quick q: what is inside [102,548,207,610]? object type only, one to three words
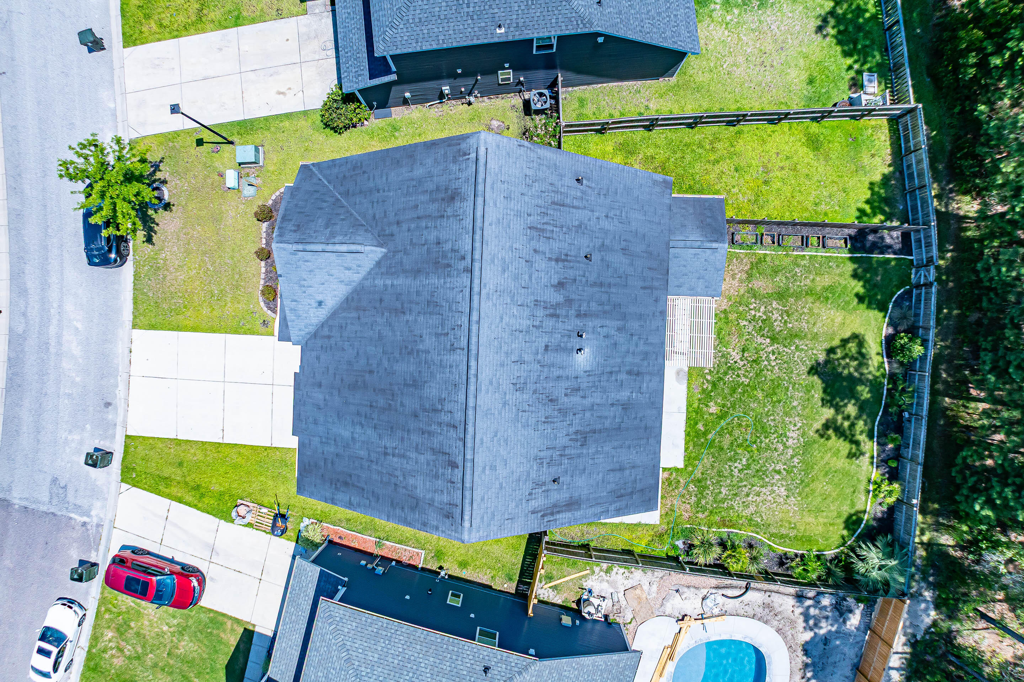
car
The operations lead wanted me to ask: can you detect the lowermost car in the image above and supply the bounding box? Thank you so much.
[25,595,87,682]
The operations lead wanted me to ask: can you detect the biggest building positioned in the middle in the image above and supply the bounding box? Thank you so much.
[273,131,728,543]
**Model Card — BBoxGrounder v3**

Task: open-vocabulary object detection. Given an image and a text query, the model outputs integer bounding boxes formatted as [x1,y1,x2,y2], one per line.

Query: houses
[334,0,700,113]
[273,131,728,543]
[254,543,646,682]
